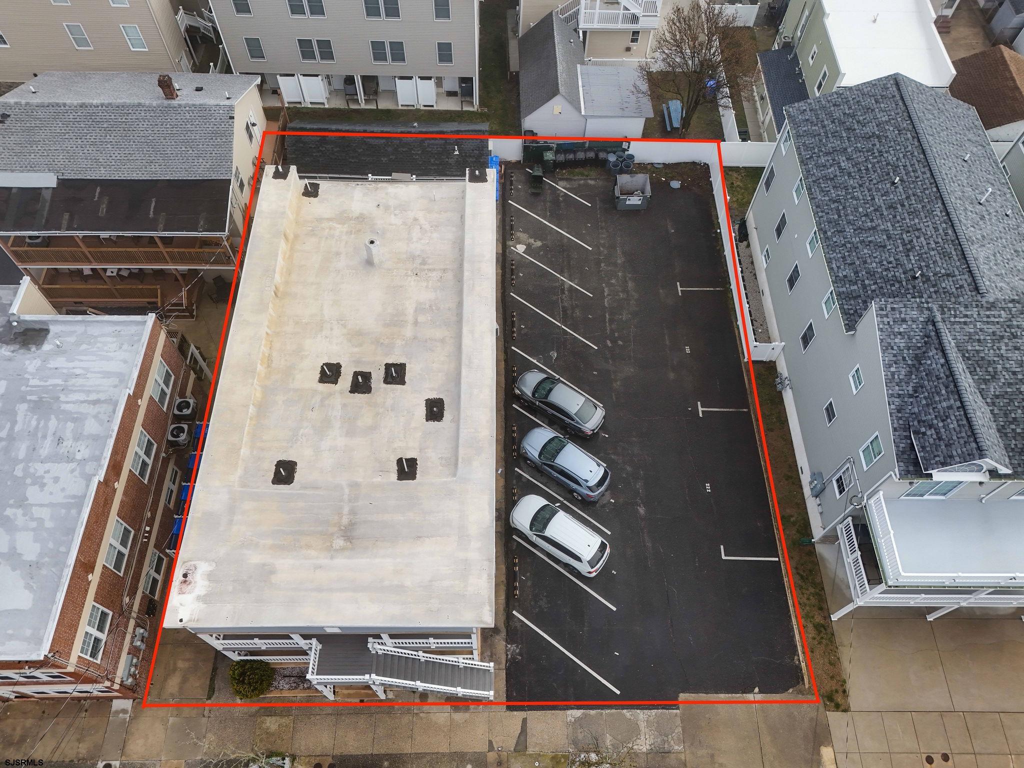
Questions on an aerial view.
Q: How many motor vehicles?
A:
3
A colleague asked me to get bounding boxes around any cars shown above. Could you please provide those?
[514,371,603,437]
[511,496,607,577]
[521,430,609,501]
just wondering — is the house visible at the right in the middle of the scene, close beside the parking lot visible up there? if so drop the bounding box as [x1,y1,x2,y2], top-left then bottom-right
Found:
[747,71,1024,622]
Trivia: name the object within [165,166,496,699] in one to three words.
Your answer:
house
